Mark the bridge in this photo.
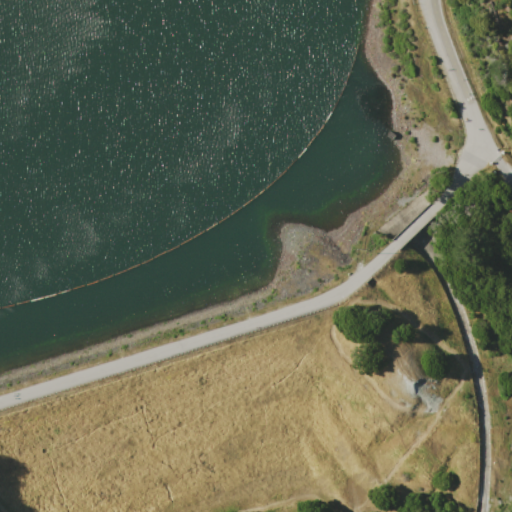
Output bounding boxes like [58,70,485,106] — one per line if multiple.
[392,202,442,250]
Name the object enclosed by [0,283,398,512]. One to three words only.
dam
